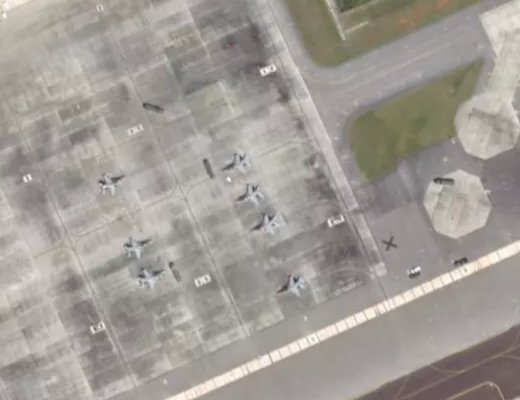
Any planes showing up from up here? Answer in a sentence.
Yes, the image includes a plane.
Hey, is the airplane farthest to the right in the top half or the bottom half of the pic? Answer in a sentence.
You can find the airplane farthest to the right in the bottom half.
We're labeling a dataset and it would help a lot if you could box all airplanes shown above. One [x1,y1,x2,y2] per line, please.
[122,238,152,259]
[237,183,266,205]
[223,152,253,174]
[278,275,307,296]
[95,173,125,194]
[252,213,282,234]
[135,268,165,289]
